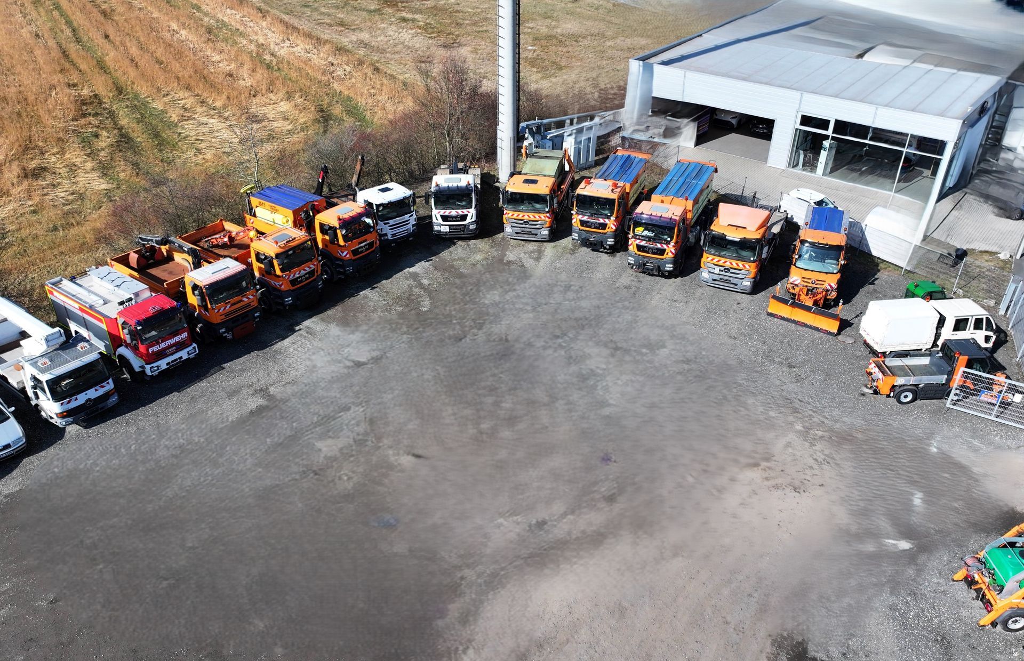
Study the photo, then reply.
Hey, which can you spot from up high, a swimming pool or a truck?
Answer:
truck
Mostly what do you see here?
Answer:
paved ground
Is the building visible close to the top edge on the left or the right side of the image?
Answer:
right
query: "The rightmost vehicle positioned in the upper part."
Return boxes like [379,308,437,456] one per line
[951,180,1024,215]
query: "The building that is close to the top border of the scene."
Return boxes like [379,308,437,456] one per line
[624,0,1024,207]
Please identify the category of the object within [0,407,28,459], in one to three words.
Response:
car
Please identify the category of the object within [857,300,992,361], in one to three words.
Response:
truck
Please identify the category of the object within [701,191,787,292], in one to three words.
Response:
truck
